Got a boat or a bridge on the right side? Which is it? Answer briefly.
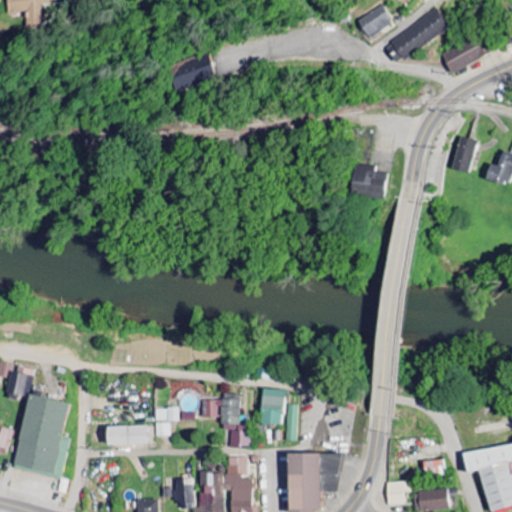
bridge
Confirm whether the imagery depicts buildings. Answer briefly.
Yes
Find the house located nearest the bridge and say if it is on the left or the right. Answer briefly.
right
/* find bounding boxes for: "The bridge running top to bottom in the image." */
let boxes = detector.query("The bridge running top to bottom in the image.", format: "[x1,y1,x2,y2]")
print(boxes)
[370,189,424,412]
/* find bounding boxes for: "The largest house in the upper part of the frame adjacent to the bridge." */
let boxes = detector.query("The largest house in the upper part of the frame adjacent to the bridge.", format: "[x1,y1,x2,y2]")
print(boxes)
[351,164,392,199]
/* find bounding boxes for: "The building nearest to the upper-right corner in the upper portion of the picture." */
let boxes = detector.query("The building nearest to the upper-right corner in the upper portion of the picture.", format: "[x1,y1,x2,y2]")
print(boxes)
[444,42,489,74]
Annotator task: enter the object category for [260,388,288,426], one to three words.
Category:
house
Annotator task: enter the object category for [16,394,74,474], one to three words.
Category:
building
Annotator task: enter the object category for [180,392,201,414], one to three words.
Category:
swimming pool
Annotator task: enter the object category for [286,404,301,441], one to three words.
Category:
barn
